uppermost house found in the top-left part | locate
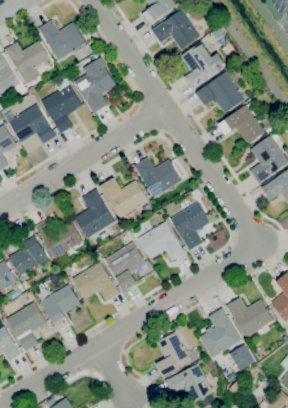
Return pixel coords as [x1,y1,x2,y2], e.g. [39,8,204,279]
[38,20,91,60]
